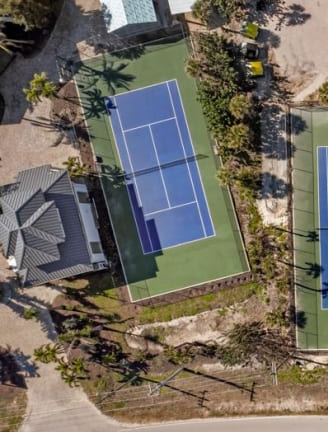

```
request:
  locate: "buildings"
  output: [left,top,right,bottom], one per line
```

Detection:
[101,0,168,40]
[170,0,198,20]
[0,167,111,289]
